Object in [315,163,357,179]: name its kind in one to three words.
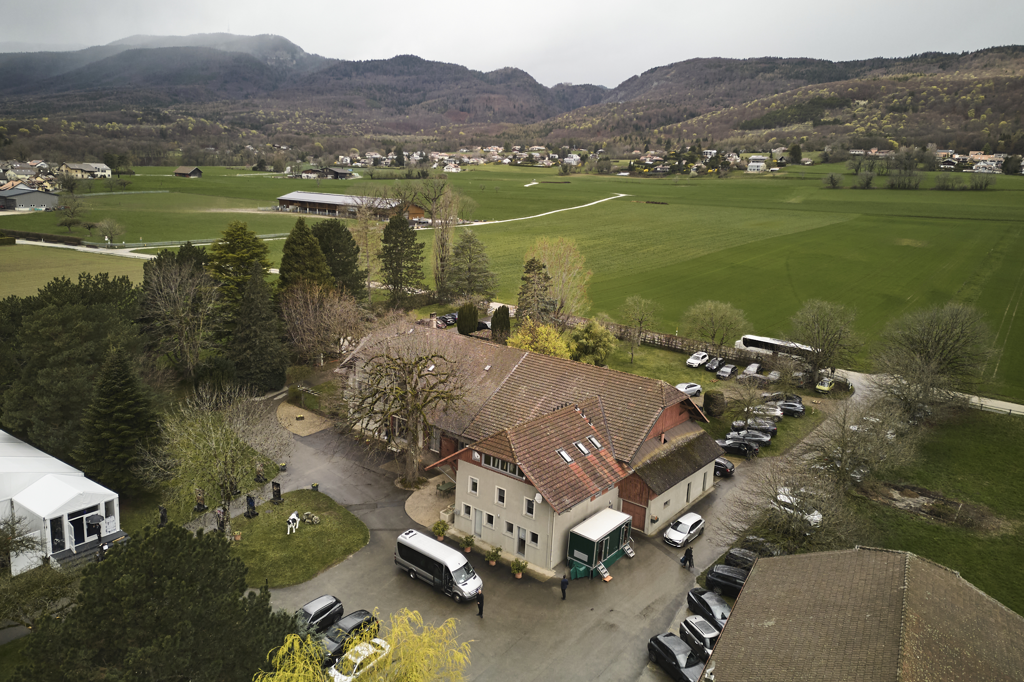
building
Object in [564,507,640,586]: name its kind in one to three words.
trailer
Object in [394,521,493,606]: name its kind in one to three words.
vehicle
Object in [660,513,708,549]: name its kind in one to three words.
car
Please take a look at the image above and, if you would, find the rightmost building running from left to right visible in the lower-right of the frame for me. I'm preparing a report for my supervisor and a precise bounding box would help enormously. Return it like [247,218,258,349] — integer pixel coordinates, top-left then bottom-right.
[699,545,1024,682]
